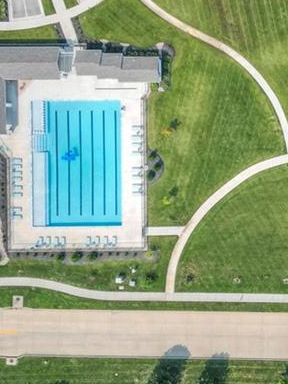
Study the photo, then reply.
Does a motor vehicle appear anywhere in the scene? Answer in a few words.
No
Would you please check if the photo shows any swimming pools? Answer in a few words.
Yes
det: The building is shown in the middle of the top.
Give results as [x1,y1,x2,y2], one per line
[71,50,161,82]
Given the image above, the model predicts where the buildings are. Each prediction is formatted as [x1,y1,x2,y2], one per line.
[71,50,161,82]
[0,47,64,135]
